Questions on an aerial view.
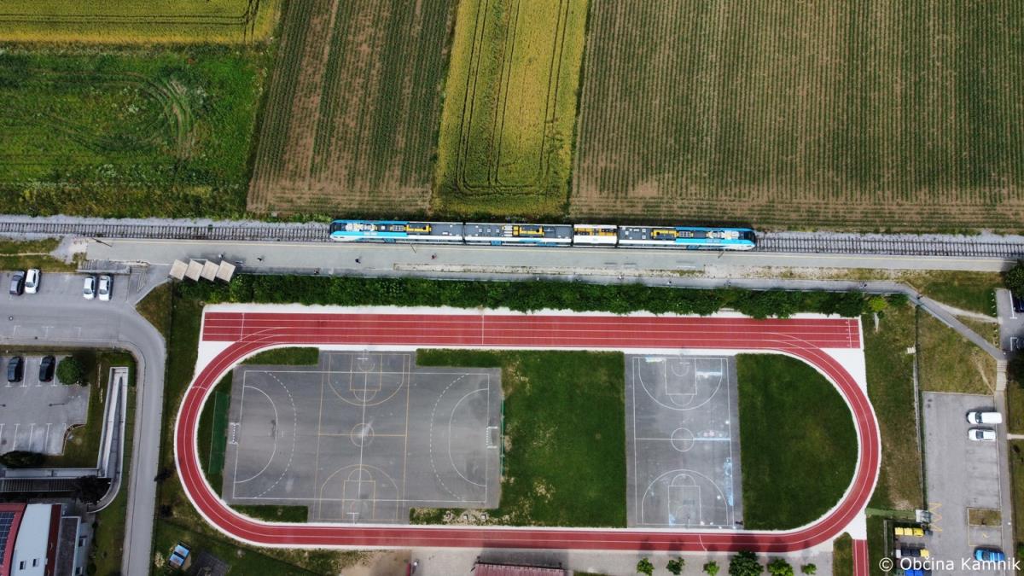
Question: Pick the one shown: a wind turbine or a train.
train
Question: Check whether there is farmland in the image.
Yes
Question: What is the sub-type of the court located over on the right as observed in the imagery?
basketball court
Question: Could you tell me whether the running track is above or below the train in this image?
below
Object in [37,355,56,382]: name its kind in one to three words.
car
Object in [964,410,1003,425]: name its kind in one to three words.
vehicle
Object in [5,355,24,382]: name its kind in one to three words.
car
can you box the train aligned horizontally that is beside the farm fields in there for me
[329,221,757,250]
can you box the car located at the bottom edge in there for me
[972,547,1005,562]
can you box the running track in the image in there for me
[174,304,883,576]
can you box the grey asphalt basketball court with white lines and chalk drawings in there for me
[625,354,743,530]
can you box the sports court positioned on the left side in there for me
[223,350,500,524]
